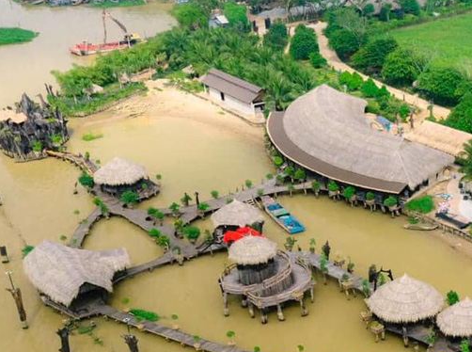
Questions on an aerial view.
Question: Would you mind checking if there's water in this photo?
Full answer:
Yes, there's water in this view.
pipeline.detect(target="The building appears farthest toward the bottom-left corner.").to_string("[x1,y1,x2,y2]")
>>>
[22,248,132,322]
